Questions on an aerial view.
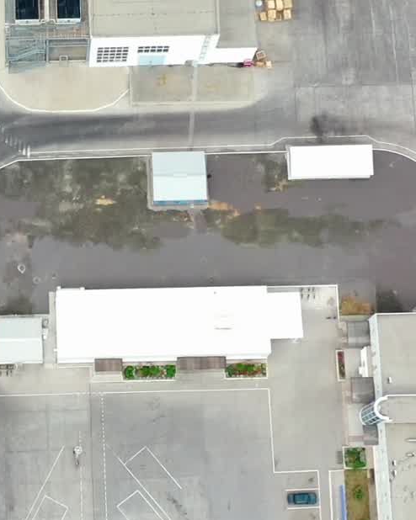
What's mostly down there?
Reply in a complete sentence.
For the most part, this view shows paved ground.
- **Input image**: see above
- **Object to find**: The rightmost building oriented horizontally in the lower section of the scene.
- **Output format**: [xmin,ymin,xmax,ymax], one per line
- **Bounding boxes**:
[54,285,305,363]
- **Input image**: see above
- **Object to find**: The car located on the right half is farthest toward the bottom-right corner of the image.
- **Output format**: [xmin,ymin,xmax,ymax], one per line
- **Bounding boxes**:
[285,491,315,505]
